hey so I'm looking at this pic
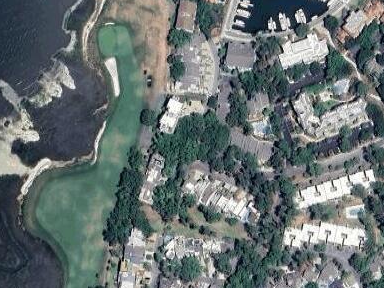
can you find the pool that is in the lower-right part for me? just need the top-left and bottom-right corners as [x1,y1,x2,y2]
[346,204,364,219]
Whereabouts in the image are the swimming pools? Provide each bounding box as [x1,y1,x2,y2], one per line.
[334,80,350,94]
[346,204,364,219]
[252,119,271,136]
